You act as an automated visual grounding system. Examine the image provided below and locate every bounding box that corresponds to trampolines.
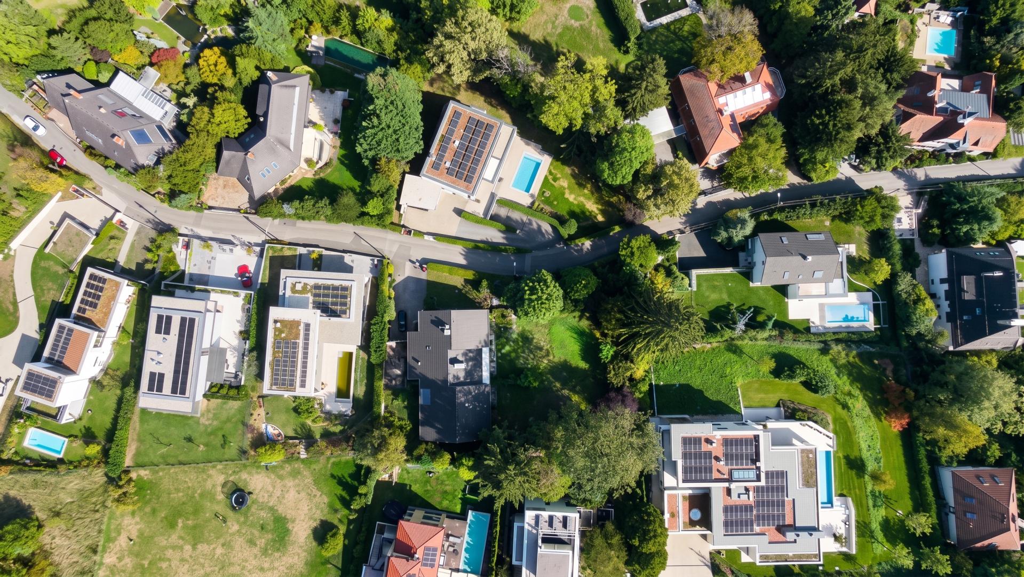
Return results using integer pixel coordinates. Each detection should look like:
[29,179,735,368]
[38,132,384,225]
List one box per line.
[225,491,251,515]
[383,500,405,522]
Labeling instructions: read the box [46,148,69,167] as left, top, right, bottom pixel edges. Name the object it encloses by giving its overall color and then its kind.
red car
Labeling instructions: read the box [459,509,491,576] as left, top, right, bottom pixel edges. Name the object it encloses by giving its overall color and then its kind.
blue swimming pool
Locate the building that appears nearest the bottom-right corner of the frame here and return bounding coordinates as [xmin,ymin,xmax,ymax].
[937,464,1020,550]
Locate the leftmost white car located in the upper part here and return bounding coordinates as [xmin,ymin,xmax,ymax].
[22,114,48,138]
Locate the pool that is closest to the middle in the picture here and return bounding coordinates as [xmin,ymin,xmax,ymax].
[509,151,544,195]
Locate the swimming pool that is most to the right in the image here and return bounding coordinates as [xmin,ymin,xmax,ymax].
[924,24,959,59]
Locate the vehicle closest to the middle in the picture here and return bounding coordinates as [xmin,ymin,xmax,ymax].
[395,309,408,332]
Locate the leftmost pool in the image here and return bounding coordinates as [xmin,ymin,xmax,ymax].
[23,426,70,459]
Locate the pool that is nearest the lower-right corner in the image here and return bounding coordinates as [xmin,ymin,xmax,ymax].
[818,448,835,509]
